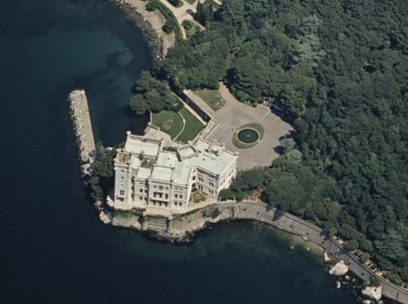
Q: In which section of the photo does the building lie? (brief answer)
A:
center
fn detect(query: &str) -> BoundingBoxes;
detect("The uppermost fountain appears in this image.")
[237,126,260,143]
